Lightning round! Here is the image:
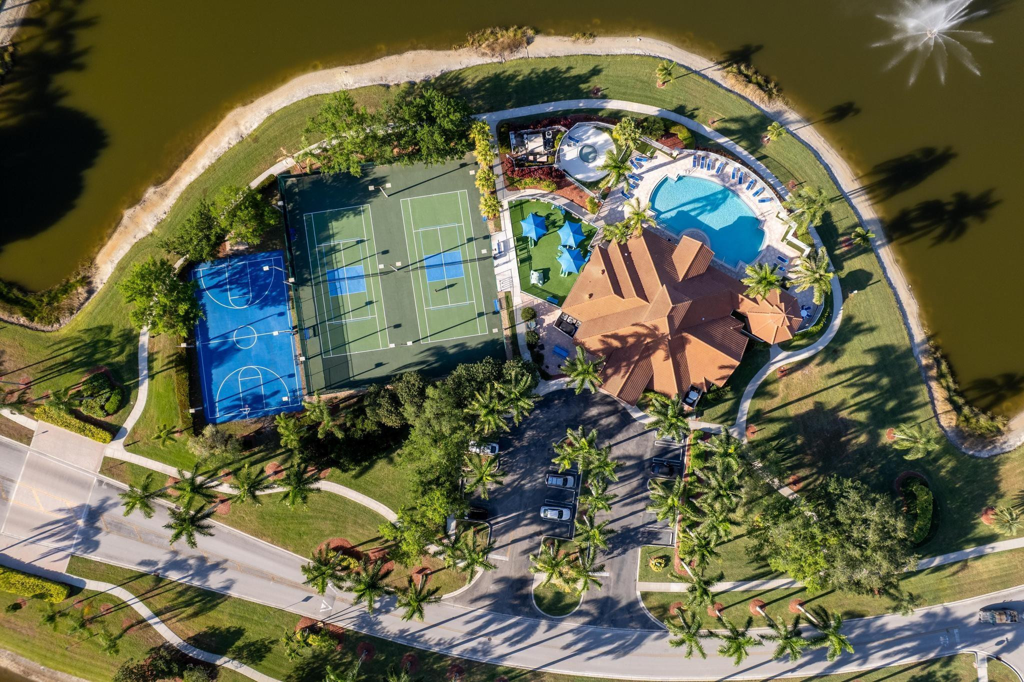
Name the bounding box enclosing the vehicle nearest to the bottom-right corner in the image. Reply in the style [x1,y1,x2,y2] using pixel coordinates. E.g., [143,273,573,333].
[979,607,1019,625]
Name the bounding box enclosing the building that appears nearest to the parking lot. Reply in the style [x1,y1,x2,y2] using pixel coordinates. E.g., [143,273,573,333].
[561,225,763,406]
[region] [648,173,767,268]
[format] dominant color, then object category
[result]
blue swimming pool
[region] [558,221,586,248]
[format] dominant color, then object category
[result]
blue umbrella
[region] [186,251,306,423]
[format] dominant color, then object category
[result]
blue basketball court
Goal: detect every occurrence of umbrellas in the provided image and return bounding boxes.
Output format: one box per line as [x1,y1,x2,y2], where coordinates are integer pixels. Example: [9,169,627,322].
[558,221,586,248]
[557,247,586,274]
[520,213,548,241]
